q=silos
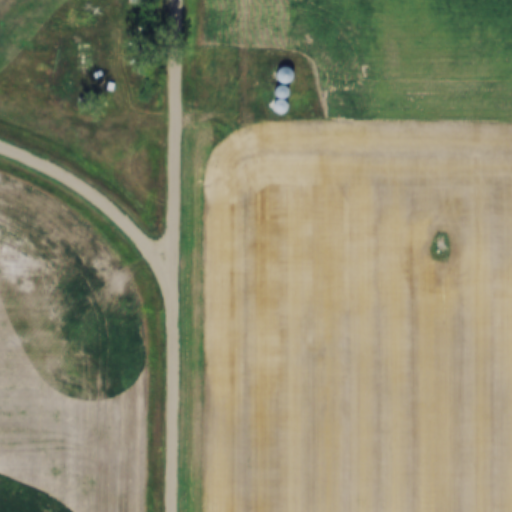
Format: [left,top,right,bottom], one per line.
[276,66,295,86]
[274,85,290,100]
[273,100,289,116]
